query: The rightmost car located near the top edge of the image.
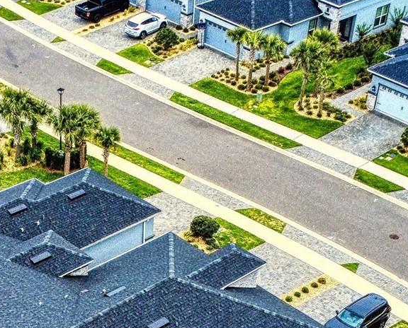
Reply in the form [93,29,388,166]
[124,10,168,36]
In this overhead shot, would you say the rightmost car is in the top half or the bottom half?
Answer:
bottom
